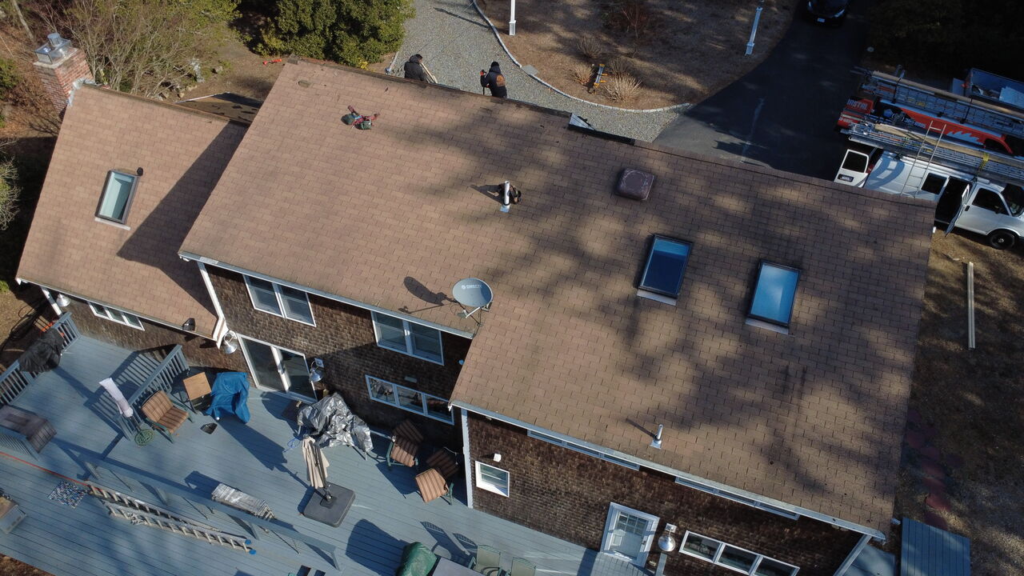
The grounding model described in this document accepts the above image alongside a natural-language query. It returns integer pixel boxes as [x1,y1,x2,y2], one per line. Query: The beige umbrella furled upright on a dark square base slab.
[291,433,348,525]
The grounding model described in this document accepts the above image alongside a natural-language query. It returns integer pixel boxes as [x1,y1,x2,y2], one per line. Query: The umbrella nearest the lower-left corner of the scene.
[104,378,156,449]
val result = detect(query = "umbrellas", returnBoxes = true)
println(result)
[104,378,156,449]
[291,433,348,525]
